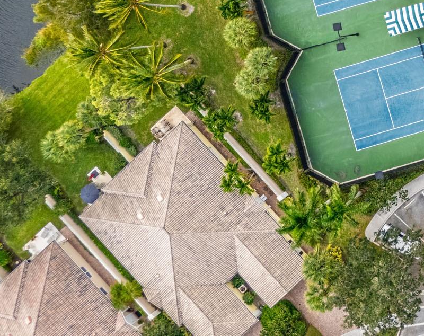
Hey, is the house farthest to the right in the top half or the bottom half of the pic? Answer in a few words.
bottom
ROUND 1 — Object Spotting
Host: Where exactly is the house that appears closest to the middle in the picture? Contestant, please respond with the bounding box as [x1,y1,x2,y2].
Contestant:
[78,121,308,336]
